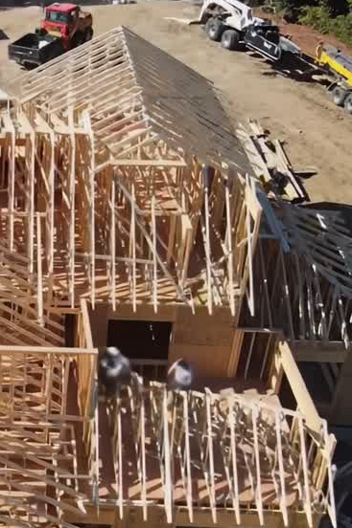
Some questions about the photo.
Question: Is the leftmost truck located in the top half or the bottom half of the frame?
top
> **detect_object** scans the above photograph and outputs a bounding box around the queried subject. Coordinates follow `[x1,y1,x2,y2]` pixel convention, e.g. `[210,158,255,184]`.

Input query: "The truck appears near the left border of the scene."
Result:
[11,0,102,62]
